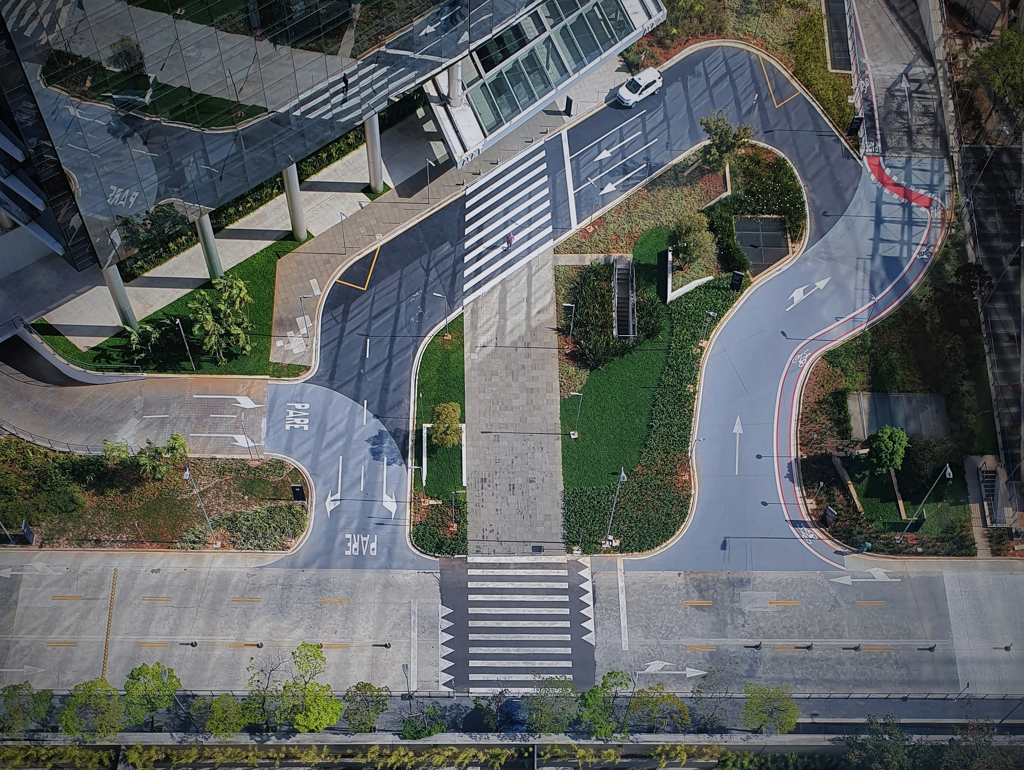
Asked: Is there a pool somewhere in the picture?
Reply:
No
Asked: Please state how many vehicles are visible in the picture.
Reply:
1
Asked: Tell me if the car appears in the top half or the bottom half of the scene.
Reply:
top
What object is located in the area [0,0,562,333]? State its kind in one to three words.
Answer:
building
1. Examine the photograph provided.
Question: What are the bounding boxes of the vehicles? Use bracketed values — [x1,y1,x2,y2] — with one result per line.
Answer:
[617,66,666,108]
